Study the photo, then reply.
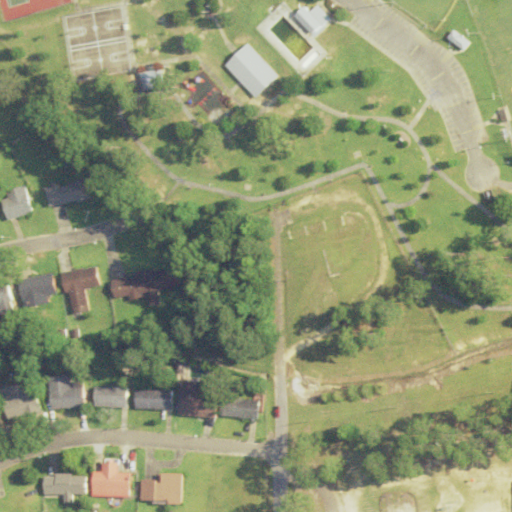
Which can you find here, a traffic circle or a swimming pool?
swimming pool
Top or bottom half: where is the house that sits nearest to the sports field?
bottom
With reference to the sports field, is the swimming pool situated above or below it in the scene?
above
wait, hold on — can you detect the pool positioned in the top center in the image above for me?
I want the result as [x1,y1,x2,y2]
[258,2,327,76]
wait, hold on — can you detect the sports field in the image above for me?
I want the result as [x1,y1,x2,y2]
[284,192,386,365]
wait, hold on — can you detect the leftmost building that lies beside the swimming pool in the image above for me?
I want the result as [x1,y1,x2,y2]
[224,44,278,98]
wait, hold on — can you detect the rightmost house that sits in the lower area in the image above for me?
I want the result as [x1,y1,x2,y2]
[219,398,262,418]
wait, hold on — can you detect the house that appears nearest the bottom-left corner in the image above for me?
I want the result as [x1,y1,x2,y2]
[42,475,88,502]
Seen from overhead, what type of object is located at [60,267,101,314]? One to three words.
house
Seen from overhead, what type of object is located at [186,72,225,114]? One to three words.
playground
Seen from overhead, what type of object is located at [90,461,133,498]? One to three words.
house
